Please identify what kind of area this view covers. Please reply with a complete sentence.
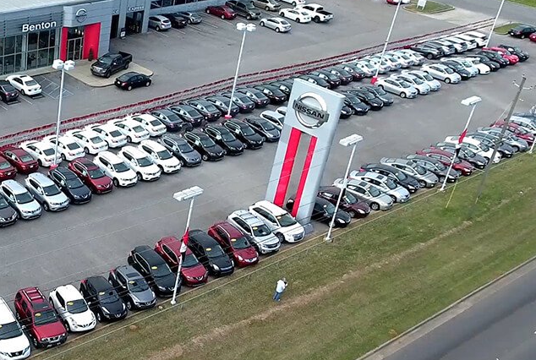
What you see here is a parking lot.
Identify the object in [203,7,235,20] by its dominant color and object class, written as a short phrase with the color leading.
red vehicle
